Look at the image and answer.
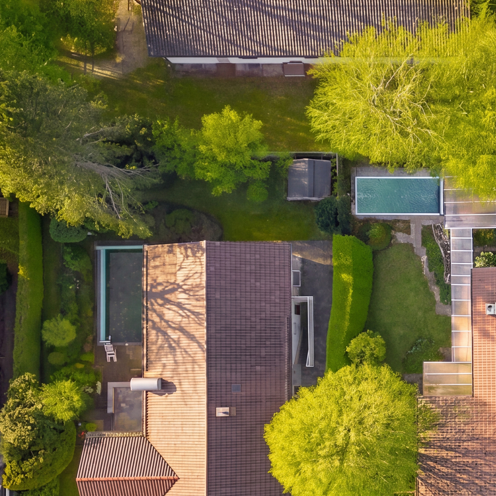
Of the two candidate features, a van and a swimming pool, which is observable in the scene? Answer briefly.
swimming pool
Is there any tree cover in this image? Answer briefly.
Yes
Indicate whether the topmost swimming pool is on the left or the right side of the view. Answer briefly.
right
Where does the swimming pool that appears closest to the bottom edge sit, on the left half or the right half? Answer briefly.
left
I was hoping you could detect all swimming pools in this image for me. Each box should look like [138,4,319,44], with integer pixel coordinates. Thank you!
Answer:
[92,245,142,345]
[354,174,444,216]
